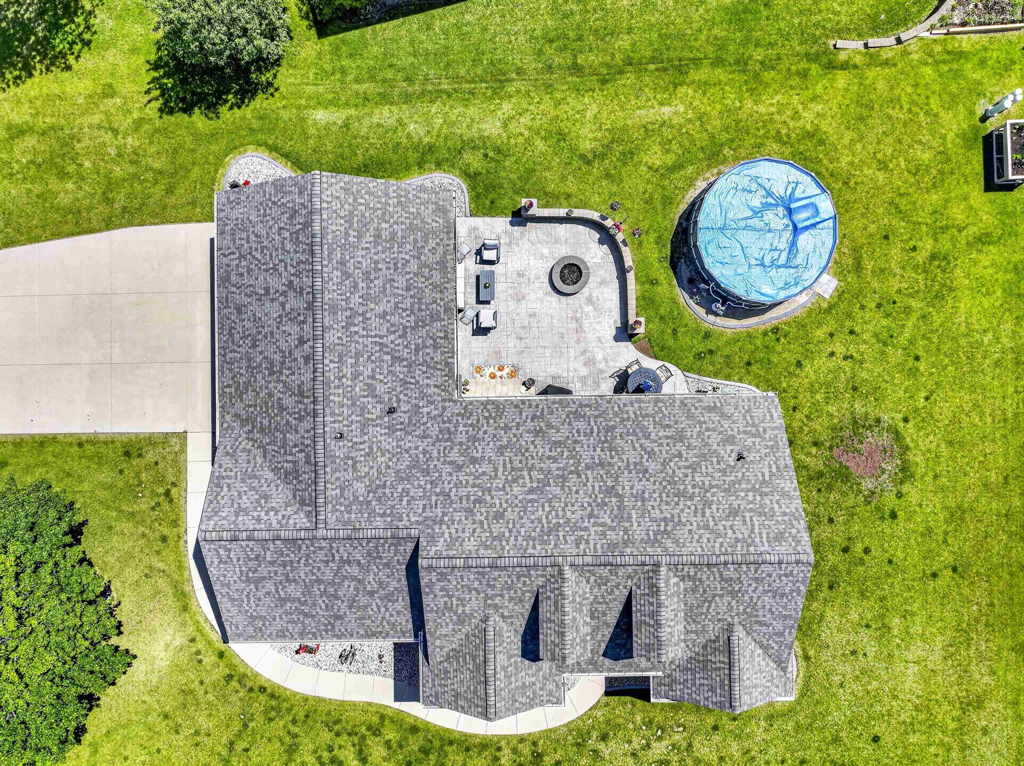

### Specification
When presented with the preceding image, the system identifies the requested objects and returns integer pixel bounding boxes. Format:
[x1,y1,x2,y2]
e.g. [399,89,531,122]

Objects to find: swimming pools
[684,156,838,311]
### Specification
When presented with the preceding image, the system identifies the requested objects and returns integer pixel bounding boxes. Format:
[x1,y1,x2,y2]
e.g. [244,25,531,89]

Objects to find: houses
[197,170,814,723]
